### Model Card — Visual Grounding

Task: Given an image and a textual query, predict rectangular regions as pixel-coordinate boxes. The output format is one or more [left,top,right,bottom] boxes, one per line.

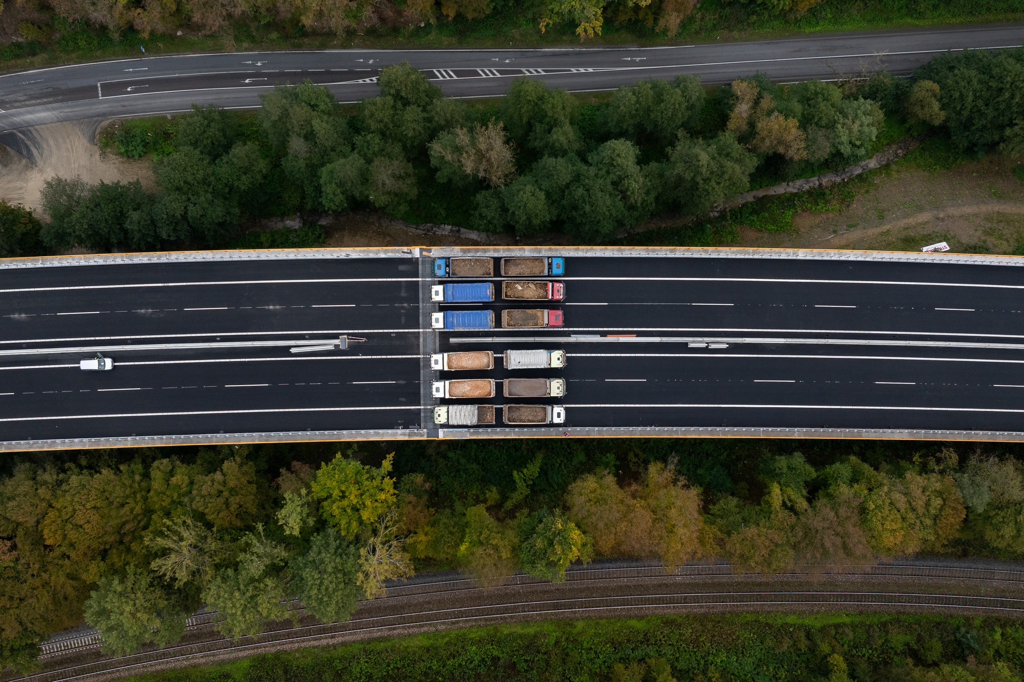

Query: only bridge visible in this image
[0,247,1024,450]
